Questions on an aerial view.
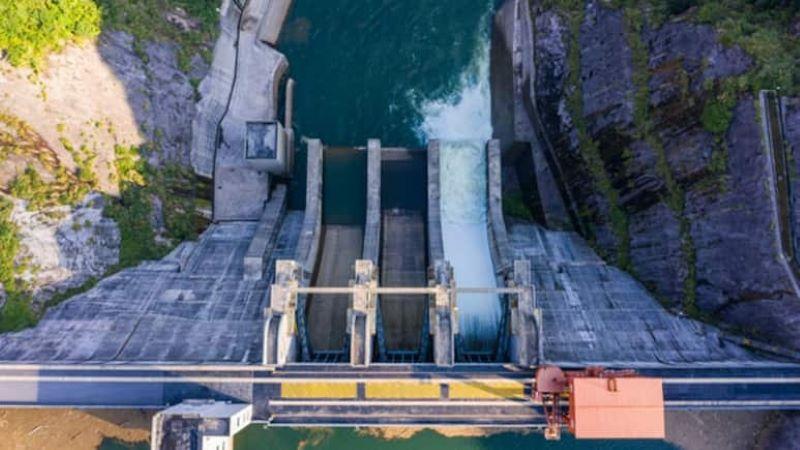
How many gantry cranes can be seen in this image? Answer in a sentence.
I count 1 gantry crane.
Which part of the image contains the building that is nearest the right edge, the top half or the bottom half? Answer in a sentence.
Seen from above, the building that is nearest the right edge lies in the top half of the view.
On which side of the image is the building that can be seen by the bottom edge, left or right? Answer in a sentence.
The building that can be seen by the bottom edge is on the left side of the image.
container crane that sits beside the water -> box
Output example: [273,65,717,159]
[526,363,667,441]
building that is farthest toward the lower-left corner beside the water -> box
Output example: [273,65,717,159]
[152,405,259,450]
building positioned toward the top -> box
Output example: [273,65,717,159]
[245,121,286,171]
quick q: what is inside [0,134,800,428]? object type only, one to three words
dam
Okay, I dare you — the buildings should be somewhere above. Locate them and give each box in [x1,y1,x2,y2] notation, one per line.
[152,405,259,450]
[245,121,286,171]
